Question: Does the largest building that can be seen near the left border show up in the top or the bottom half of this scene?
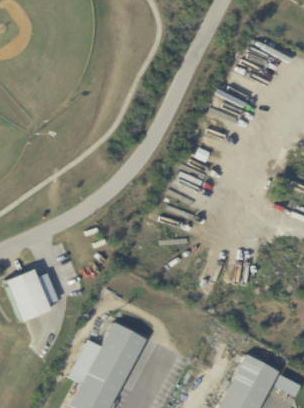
bottom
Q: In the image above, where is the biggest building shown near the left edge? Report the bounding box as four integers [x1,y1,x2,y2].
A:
[6,270,51,322]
